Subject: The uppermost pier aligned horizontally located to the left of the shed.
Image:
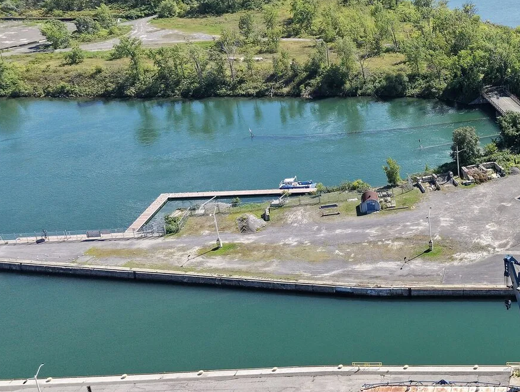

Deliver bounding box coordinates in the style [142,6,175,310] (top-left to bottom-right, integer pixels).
[123,188,317,234]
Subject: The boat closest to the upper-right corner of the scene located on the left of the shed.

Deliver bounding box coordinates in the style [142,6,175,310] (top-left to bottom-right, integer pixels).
[277,173,315,190]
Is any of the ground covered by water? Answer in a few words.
Yes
